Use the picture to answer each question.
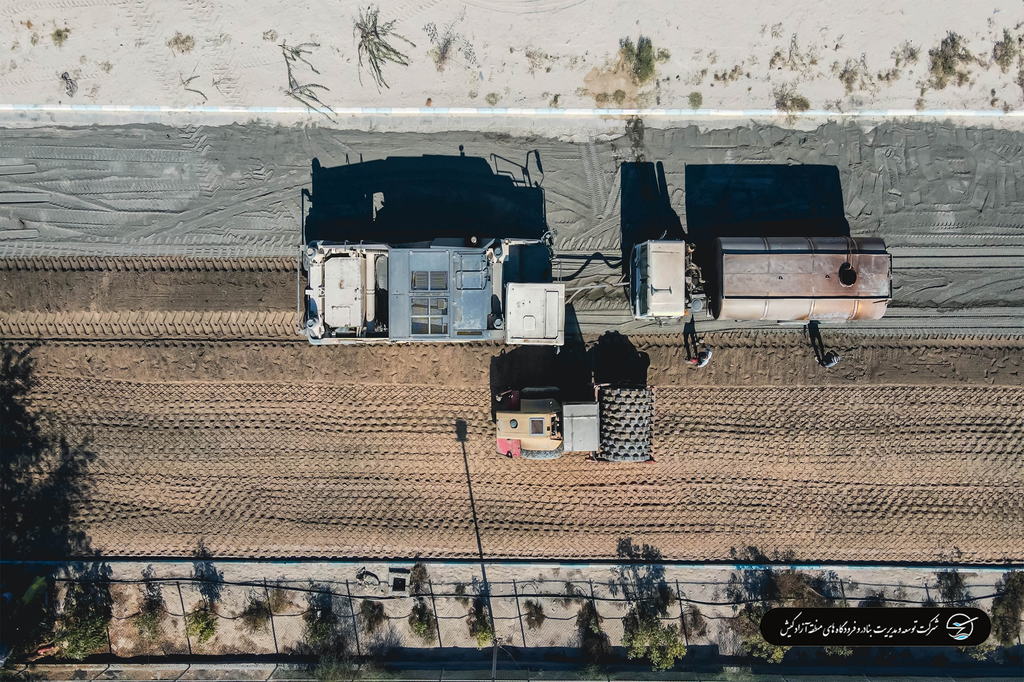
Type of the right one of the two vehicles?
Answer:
truck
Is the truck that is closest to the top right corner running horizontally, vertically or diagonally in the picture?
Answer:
horizontally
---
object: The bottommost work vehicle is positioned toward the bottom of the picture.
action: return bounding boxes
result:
[494,380,658,464]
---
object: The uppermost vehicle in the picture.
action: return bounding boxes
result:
[617,229,894,327]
